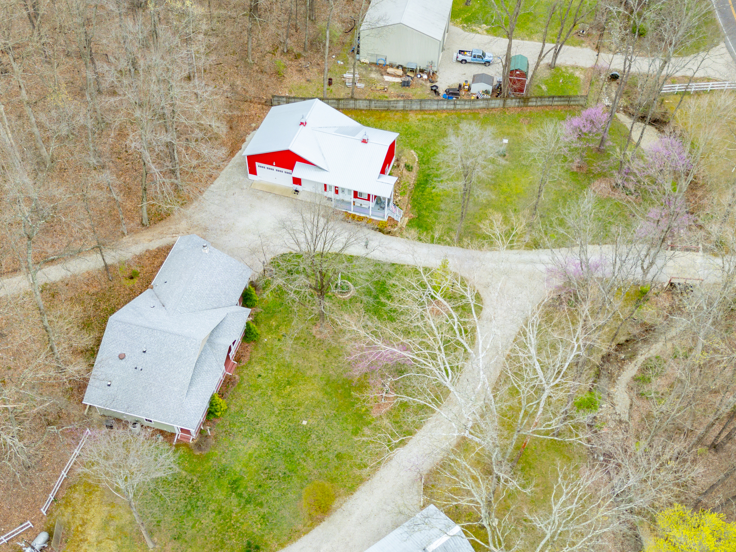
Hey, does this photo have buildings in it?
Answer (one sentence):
Yes, there's a building down there.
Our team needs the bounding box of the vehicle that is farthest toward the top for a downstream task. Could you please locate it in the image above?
[456,47,497,66]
